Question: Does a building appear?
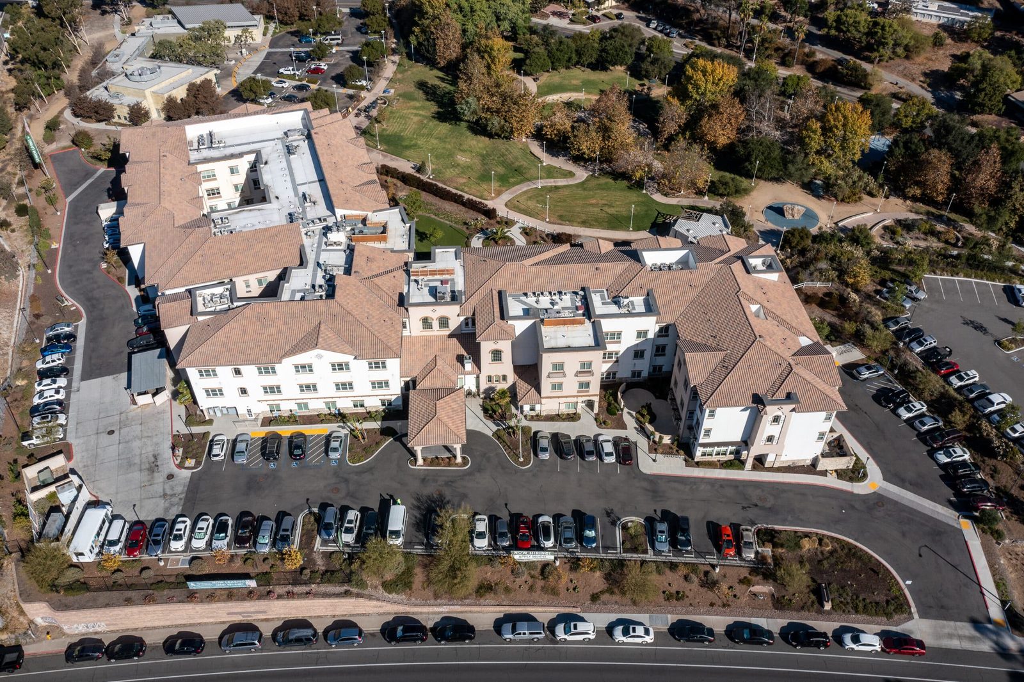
Yes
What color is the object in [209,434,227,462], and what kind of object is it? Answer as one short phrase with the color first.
white car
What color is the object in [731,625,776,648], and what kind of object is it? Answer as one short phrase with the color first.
black car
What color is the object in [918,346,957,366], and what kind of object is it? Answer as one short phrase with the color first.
black vehicle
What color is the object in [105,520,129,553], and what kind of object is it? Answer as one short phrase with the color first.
white car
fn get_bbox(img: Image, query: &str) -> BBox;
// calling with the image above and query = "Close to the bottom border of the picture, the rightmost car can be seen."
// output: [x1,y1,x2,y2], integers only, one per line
[880,635,928,659]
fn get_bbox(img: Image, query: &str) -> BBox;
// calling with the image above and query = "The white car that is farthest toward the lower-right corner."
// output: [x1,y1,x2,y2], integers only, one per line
[840,632,883,655]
